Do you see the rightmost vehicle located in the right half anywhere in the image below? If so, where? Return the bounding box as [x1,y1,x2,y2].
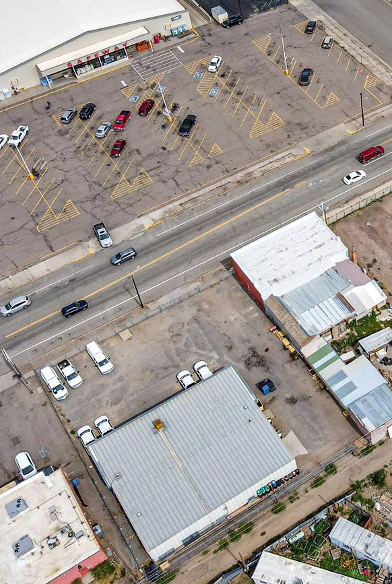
[357,145,386,162]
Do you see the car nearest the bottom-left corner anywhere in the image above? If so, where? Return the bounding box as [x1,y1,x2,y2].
[15,450,38,481]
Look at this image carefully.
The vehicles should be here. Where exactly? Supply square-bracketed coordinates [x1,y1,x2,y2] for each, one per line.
[43,364,67,398]
[76,422,96,456]
[7,125,32,147]
[0,134,11,148]
[59,299,91,318]
[221,14,244,29]
[55,357,81,388]
[178,114,198,136]
[302,18,319,35]
[208,56,223,72]
[112,109,134,132]
[87,339,113,371]
[109,138,129,158]
[77,101,99,120]
[194,359,213,379]
[59,107,78,124]
[94,121,114,139]
[177,368,196,388]
[92,222,113,247]
[342,170,368,185]
[94,411,114,435]
[15,450,38,481]
[357,145,386,162]
[0,294,32,315]
[110,245,138,266]
[296,66,315,85]
[137,98,156,117]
